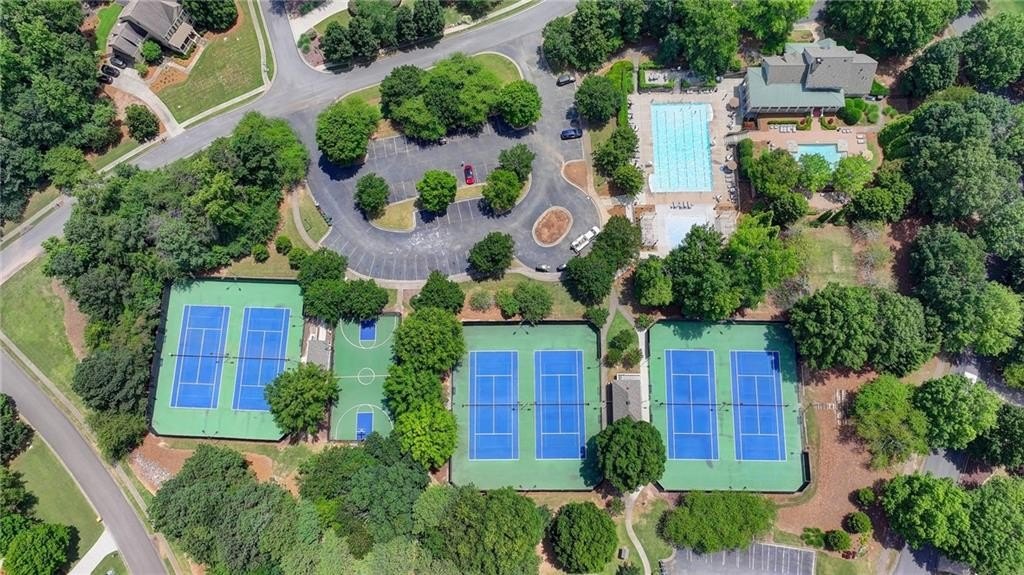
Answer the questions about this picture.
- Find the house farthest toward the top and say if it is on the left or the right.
left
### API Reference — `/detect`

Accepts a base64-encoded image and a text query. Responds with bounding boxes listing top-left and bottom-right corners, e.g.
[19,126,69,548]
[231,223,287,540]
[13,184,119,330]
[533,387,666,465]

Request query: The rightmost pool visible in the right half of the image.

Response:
[786,143,849,181]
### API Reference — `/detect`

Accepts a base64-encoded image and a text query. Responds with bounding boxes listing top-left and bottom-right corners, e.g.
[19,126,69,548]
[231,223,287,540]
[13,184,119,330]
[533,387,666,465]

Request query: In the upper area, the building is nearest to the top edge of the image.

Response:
[116,0,200,62]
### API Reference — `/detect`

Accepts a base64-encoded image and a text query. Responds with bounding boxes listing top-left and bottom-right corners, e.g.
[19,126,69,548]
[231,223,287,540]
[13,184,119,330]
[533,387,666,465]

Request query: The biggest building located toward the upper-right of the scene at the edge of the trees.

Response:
[743,39,878,119]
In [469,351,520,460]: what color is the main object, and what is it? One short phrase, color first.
blue tennis court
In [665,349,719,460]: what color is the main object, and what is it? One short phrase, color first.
blue tennis court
